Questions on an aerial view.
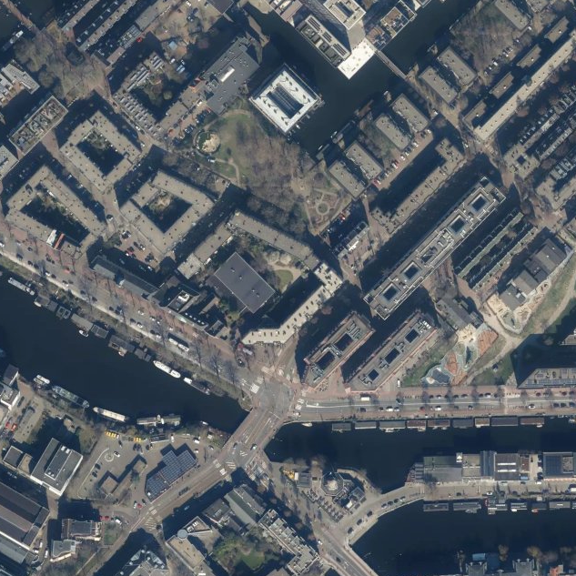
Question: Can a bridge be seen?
Yes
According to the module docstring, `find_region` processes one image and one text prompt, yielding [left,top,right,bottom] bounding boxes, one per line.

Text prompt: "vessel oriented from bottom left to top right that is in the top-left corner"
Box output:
[1,31,23,50]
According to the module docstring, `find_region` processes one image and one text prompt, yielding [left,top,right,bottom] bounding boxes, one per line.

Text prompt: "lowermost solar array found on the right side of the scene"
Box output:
[546,455,561,475]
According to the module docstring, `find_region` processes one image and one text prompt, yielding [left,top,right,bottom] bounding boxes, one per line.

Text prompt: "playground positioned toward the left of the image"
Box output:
[196,126,223,155]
